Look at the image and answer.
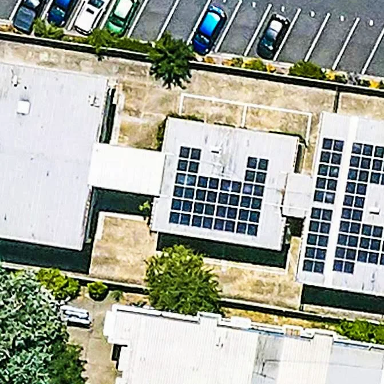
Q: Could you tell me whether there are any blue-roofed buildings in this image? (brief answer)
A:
No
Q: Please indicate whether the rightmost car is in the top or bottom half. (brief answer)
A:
top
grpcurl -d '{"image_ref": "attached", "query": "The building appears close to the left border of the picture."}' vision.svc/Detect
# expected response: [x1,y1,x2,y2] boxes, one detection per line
[0,61,124,251]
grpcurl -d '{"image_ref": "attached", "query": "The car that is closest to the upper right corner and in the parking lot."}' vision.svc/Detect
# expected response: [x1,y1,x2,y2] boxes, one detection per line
[258,13,291,60]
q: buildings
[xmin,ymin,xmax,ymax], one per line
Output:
[0,61,124,251]
[296,111,384,297]
[104,305,384,384]
[150,116,304,252]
